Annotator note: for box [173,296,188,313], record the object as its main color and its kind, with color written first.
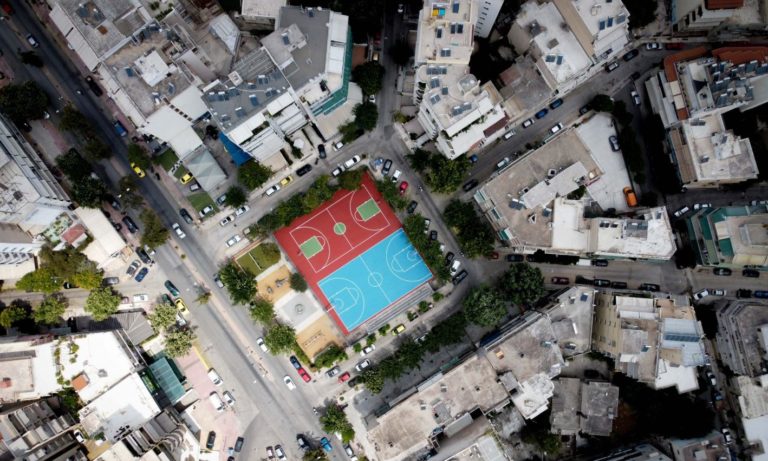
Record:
yellow car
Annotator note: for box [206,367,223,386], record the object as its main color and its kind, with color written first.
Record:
white vehicle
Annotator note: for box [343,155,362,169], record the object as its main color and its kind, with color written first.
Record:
white vehicle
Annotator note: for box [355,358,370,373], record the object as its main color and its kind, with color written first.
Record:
white car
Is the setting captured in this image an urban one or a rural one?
urban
